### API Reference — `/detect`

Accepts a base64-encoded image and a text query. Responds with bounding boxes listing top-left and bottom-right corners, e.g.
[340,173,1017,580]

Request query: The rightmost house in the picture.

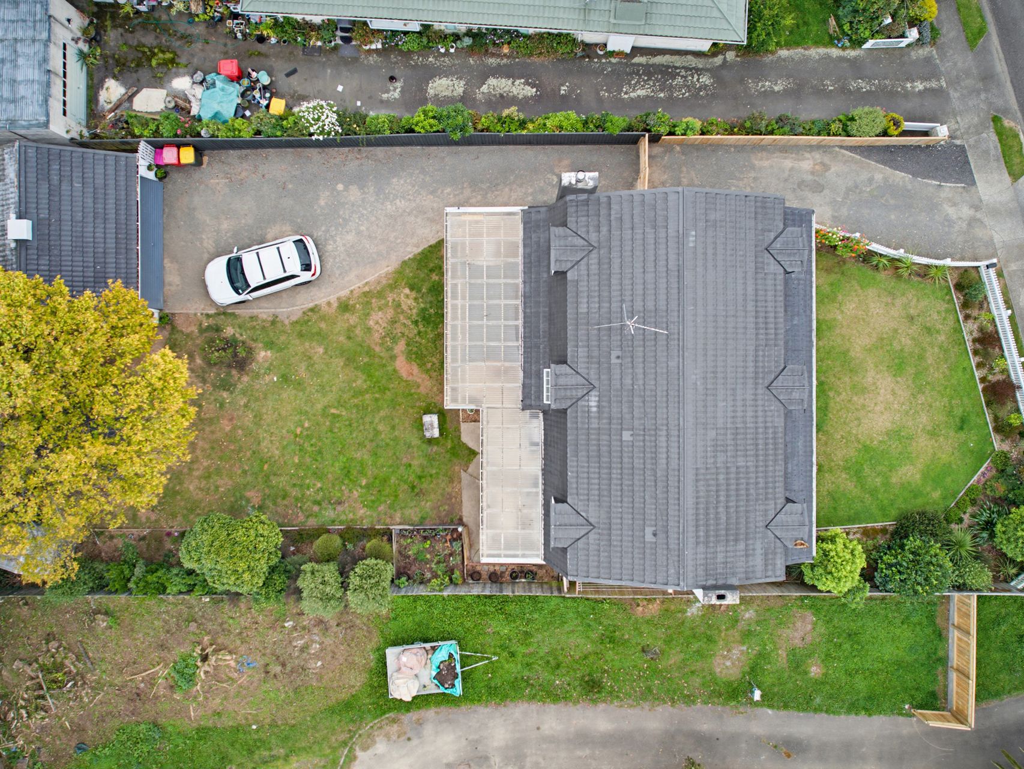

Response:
[521,168,819,603]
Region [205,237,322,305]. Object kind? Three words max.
car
